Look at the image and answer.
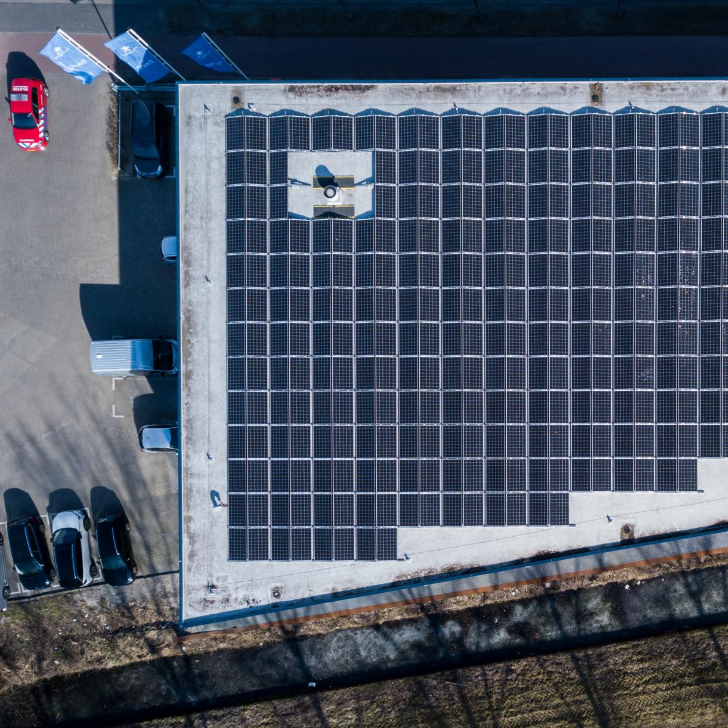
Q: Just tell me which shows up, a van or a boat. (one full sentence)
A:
I can see a van in this picture.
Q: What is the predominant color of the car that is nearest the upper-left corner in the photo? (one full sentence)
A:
The car that is nearest the upper-left corner is red.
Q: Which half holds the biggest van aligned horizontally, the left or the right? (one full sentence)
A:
The biggest van aligned horizontally is on the left side of the image.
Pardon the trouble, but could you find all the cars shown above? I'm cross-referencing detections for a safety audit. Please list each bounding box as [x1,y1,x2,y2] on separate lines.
[92,512,141,588]
[48,510,98,588]
[143,425,179,453]
[0,539,11,608]
[129,103,172,180]
[164,234,178,266]
[2,76,49,151]
[4,513,56,593]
